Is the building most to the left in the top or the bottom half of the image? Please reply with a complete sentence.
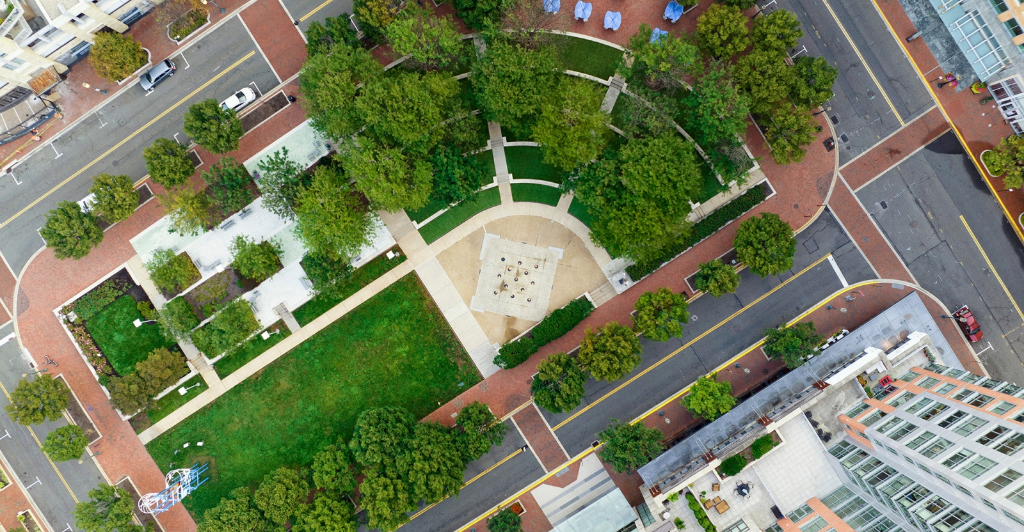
The building most to the left is in the top half of the image.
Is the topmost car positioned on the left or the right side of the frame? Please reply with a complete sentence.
The topmost car sits on the left side.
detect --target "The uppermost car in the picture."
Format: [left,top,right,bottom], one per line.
[139,59,178,92]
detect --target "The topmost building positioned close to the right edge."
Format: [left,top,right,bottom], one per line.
[929,0,1024,98]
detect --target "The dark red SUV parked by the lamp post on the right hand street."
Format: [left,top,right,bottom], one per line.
[951,304,981,342]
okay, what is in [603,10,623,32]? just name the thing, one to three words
umbrella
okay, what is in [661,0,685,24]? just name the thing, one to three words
umbrella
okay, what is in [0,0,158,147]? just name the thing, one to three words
building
